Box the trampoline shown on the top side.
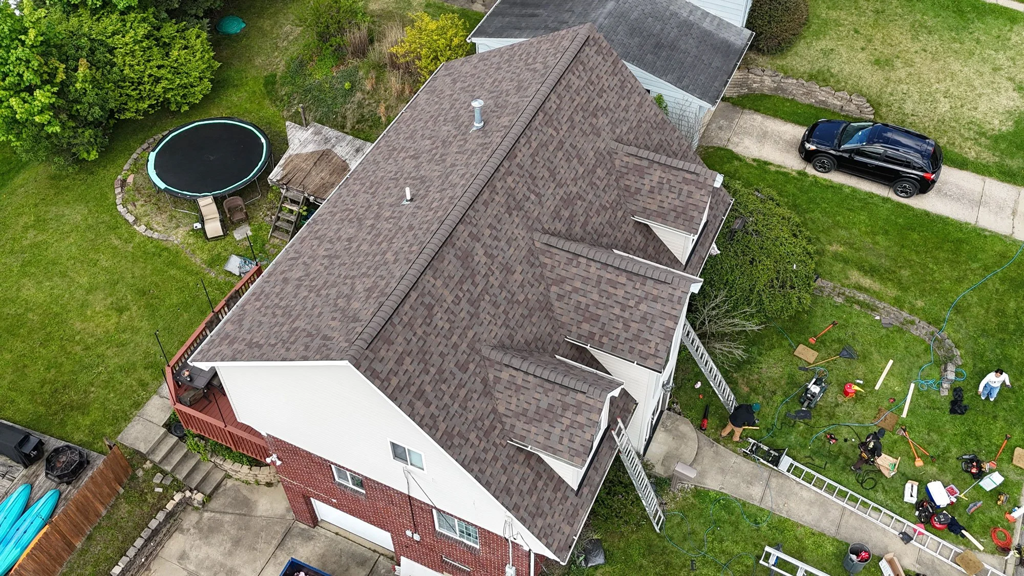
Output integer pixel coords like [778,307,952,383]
[147,118,276,219]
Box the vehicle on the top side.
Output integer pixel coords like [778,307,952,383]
[799,116,948,197]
